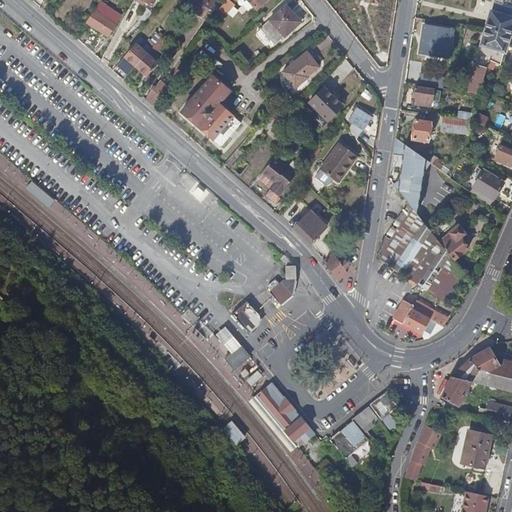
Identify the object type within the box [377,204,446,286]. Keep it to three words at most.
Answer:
building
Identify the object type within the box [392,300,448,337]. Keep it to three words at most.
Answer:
building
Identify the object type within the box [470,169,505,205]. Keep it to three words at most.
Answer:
house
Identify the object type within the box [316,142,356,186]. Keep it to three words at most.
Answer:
house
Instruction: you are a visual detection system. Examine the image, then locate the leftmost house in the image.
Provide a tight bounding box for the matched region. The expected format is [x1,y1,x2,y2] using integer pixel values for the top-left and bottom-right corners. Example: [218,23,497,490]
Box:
[86,2,122,38]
